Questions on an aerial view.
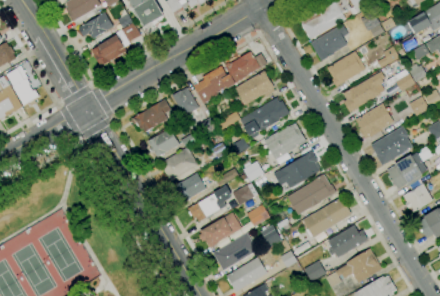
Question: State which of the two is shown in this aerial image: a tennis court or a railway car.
tennis court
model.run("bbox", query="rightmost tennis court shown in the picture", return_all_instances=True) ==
[39,228,84,282]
